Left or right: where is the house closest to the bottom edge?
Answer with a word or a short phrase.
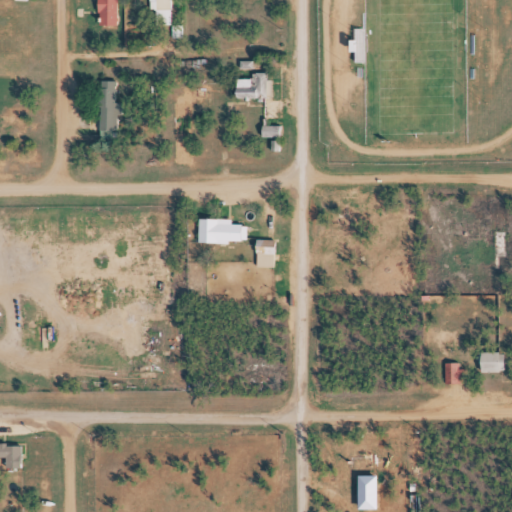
right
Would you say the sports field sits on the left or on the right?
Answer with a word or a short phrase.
right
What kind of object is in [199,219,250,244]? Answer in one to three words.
house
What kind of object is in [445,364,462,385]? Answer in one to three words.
barn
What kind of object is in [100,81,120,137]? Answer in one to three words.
house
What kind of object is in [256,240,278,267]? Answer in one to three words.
building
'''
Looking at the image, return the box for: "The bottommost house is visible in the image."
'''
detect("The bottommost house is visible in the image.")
[358,476,380,510]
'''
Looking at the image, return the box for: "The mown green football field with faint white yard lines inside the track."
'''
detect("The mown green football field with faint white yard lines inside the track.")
[368,0,466,143]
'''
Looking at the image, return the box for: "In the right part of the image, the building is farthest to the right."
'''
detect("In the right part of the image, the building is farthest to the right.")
[480,352,506,373]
